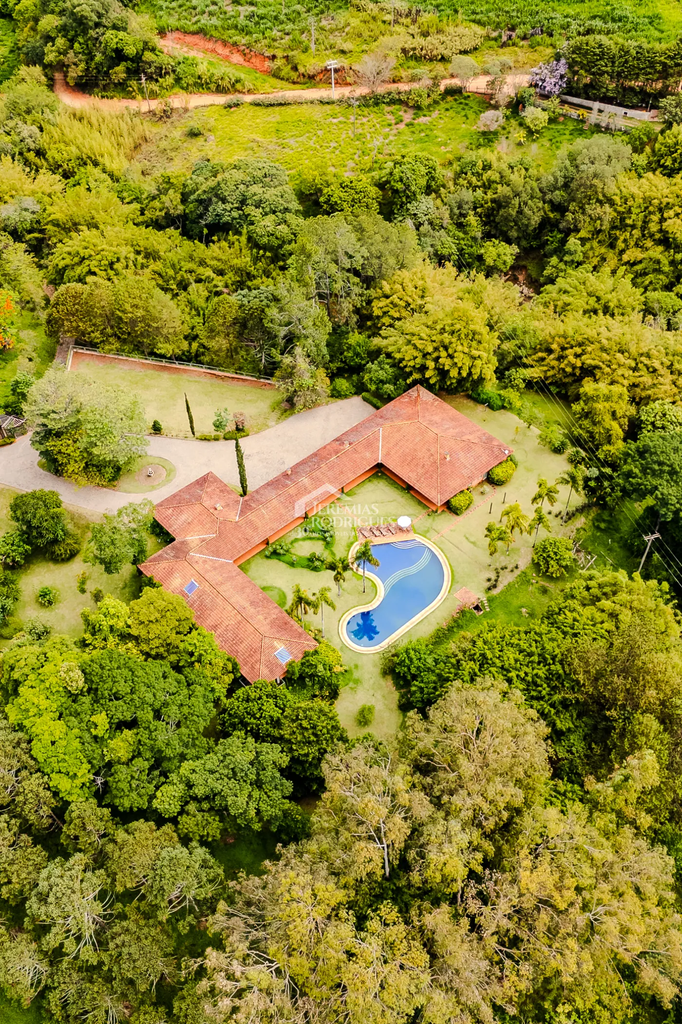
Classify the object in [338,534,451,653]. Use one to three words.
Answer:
swimming pool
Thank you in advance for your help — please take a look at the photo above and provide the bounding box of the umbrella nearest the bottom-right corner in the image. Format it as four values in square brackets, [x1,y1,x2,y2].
[397,514,416,534]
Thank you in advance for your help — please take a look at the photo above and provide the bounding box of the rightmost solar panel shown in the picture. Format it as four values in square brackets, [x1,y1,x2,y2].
[271,643,293,666]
